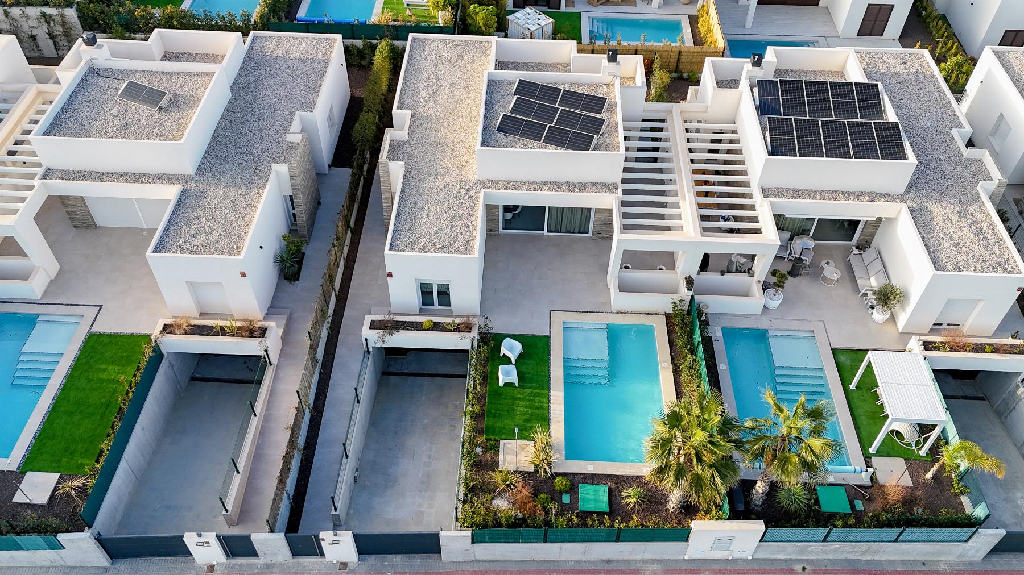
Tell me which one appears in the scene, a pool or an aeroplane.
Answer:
pool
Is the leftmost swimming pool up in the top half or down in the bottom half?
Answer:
bottom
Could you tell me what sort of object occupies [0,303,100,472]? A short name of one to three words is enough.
swimming pool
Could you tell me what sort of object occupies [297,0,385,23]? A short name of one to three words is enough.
swimming pool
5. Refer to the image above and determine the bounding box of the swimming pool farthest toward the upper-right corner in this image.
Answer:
[726,34,831,59]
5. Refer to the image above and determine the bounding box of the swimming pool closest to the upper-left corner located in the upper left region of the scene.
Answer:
[178,0,263,21]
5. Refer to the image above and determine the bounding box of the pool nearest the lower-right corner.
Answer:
[706,317,872,486]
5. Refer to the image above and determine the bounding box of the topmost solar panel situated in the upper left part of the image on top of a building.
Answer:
[117,78,169,109]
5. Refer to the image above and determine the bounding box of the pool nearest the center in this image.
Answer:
[550,310,681,477]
